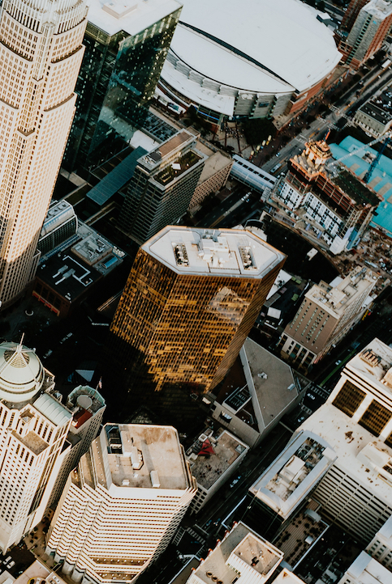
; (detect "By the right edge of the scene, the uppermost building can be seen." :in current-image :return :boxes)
[332,0,392,92]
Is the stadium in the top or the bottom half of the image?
top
